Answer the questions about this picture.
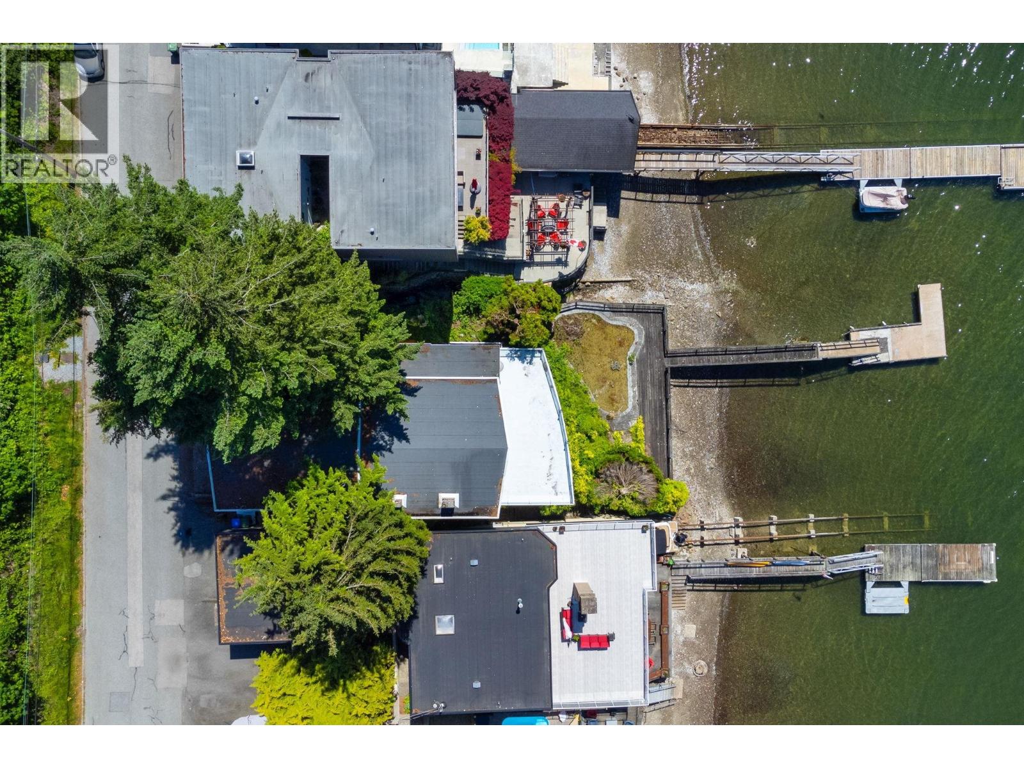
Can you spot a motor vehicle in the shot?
Yes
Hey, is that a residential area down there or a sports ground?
residential area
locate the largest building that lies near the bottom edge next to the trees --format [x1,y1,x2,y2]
[358,520,660,746]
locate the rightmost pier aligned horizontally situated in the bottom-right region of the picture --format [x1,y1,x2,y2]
[860,543,997,583]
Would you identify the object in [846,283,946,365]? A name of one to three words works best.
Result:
pier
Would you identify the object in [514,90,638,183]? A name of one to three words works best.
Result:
building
